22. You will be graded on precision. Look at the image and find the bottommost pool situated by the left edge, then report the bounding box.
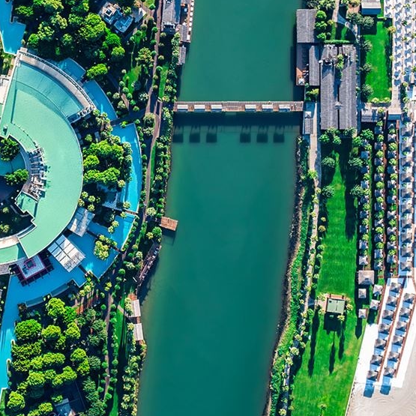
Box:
[0,231,121,402]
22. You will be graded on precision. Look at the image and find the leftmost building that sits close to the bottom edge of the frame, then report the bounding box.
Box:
[49,381,83,416]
